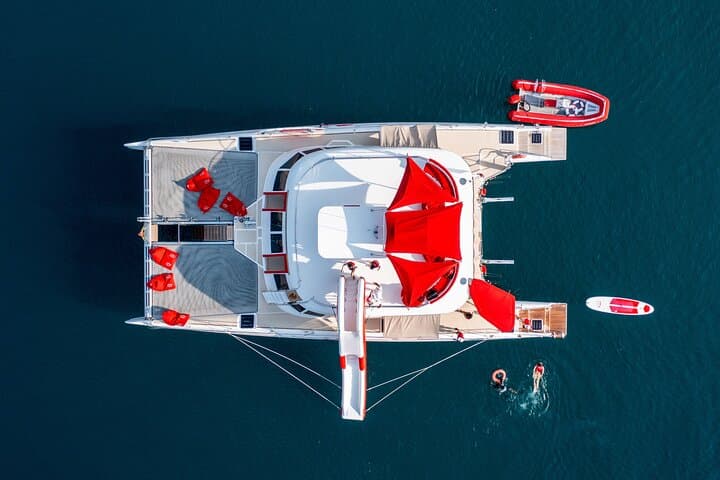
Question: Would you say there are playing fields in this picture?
No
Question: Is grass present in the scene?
No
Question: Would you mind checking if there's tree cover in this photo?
No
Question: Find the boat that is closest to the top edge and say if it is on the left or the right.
right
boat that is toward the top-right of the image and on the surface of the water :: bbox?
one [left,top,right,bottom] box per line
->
[507,79,610,127]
